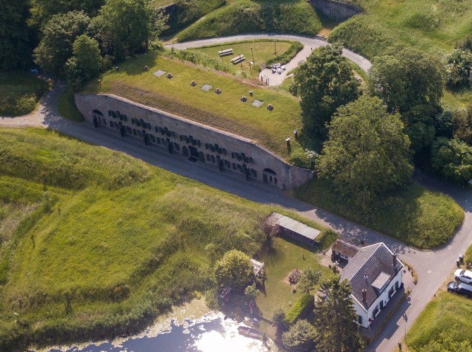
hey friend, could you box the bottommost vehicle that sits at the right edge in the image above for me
[448,282,472,301]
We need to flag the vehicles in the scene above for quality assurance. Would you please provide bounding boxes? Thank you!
[448,282,472,301]
[453,267,472,285]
